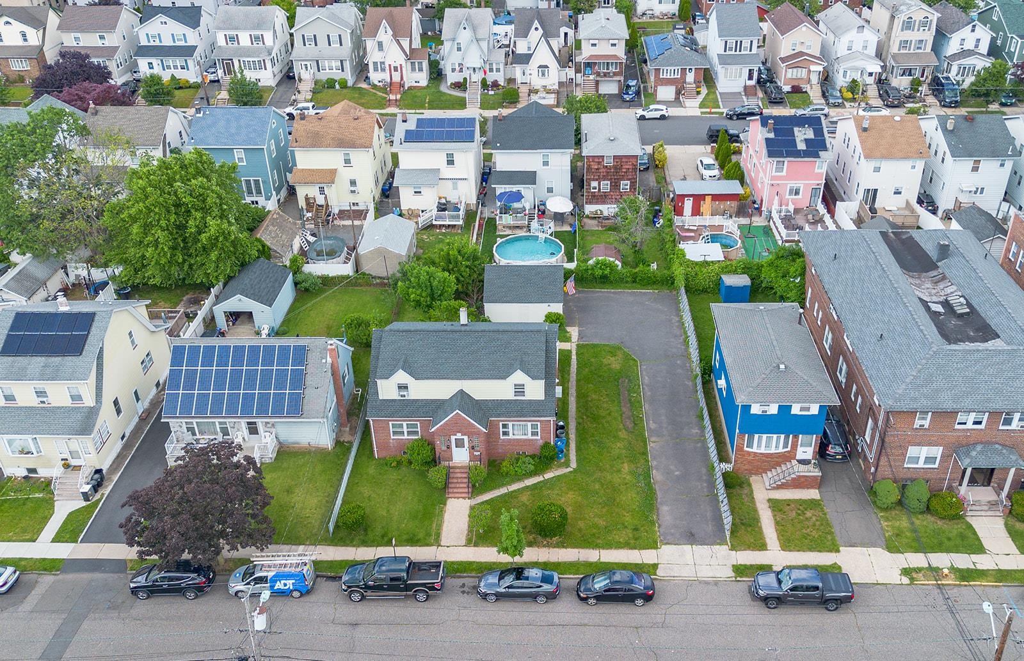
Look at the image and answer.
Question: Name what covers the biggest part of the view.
buildings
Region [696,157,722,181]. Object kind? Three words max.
car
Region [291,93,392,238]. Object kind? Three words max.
house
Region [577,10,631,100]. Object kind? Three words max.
house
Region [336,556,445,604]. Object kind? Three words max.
truck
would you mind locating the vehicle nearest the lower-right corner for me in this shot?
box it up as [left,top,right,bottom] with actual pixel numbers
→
[757,563,862,608]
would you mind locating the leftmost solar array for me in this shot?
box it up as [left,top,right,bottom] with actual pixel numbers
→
[1,306,103,369]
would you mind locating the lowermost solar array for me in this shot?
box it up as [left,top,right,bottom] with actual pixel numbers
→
[160,344,310,414]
